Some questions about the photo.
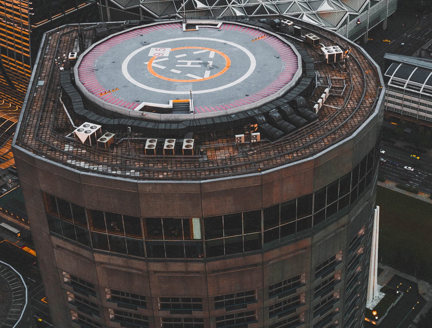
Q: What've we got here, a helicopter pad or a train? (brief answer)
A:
helicopter pad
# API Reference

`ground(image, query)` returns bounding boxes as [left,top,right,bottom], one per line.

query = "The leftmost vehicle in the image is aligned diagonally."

[0,219,19,235]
